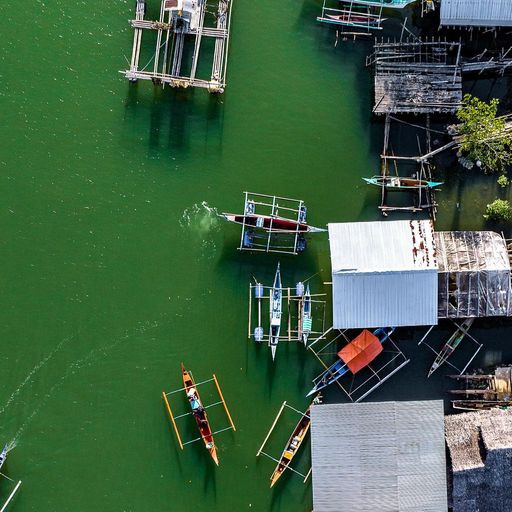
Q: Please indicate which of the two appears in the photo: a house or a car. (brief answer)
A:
house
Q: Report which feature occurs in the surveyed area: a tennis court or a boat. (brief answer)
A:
boat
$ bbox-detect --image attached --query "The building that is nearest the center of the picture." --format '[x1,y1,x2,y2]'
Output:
[324,220,439,333]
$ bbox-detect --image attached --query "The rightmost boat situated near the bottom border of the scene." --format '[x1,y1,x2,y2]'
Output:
[257,392,322,488]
